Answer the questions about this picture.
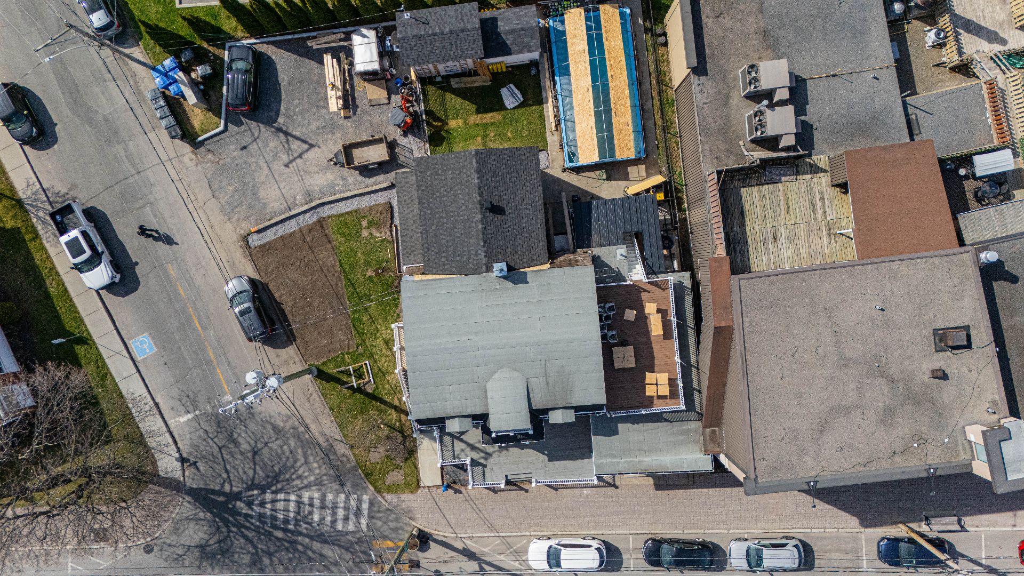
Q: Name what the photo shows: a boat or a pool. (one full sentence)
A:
Looking from above, you can make out a pool.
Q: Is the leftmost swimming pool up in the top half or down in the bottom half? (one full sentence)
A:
You can find the leftmost swimming pool in the top half.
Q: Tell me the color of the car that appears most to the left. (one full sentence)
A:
The car that appears most to the left looks black in the image.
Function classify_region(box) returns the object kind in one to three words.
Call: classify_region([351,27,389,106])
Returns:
trailer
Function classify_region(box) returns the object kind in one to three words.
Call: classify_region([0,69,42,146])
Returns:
car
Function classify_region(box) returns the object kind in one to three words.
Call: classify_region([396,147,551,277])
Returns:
house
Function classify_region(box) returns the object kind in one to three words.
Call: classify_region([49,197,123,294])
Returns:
truck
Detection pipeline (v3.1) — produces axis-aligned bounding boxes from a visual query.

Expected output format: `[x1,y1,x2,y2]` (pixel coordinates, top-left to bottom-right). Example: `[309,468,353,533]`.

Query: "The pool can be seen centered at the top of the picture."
[547,7,647,170]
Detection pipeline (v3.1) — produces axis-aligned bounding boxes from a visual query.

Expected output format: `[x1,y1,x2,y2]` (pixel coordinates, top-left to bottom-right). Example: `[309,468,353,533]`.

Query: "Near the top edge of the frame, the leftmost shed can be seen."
[396,2,484,81]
